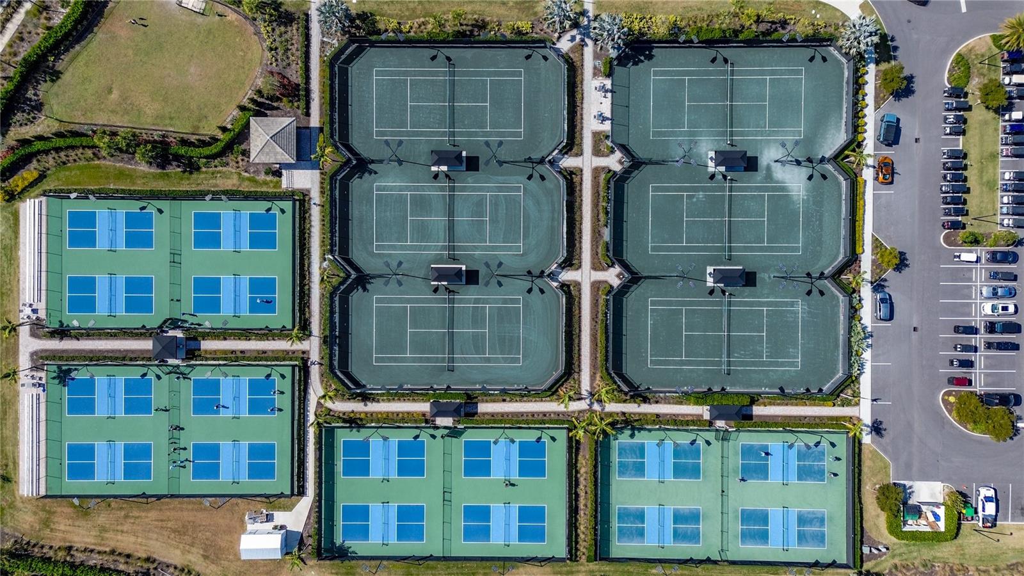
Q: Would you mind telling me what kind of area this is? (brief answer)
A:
sports ground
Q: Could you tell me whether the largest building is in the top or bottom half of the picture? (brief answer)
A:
top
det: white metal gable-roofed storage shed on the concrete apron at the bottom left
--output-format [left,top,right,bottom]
[237,529,286,560]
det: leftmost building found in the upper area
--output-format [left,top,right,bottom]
[249,117,300,165]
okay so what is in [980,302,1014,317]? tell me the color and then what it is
white car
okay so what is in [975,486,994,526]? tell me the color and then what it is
white vehicle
